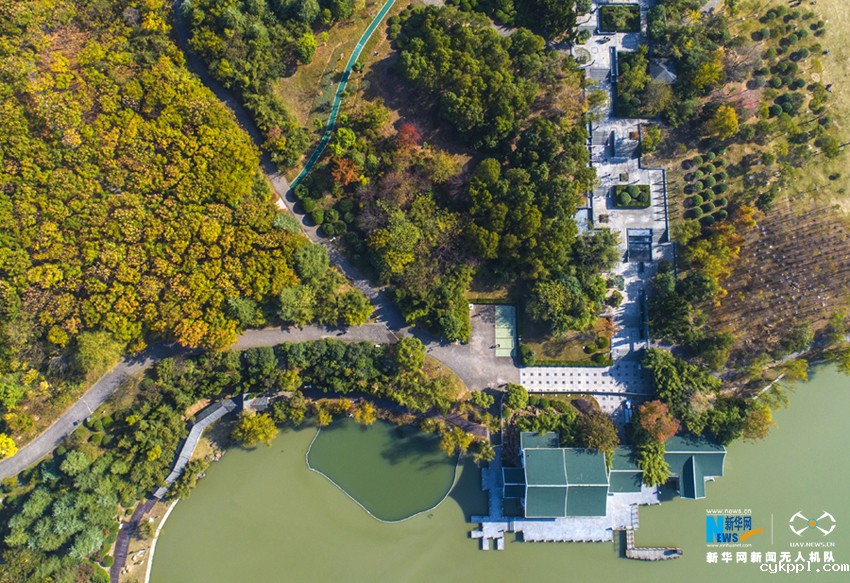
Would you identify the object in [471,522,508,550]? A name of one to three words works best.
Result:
pier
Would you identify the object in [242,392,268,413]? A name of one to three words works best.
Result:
house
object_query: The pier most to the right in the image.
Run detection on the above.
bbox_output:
[626,529,682,560]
